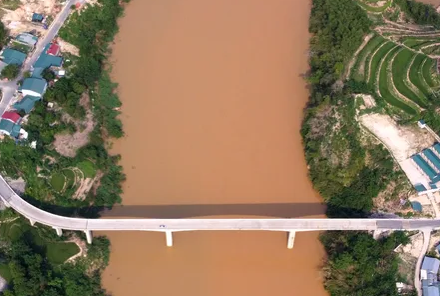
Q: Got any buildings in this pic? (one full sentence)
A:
Yes, the image includes a building.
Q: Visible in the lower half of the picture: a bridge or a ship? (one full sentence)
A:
Visible in the lower half of the picture is a bridge.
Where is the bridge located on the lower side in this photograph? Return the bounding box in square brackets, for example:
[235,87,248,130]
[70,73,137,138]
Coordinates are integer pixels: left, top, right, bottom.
[1,190,384,249]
